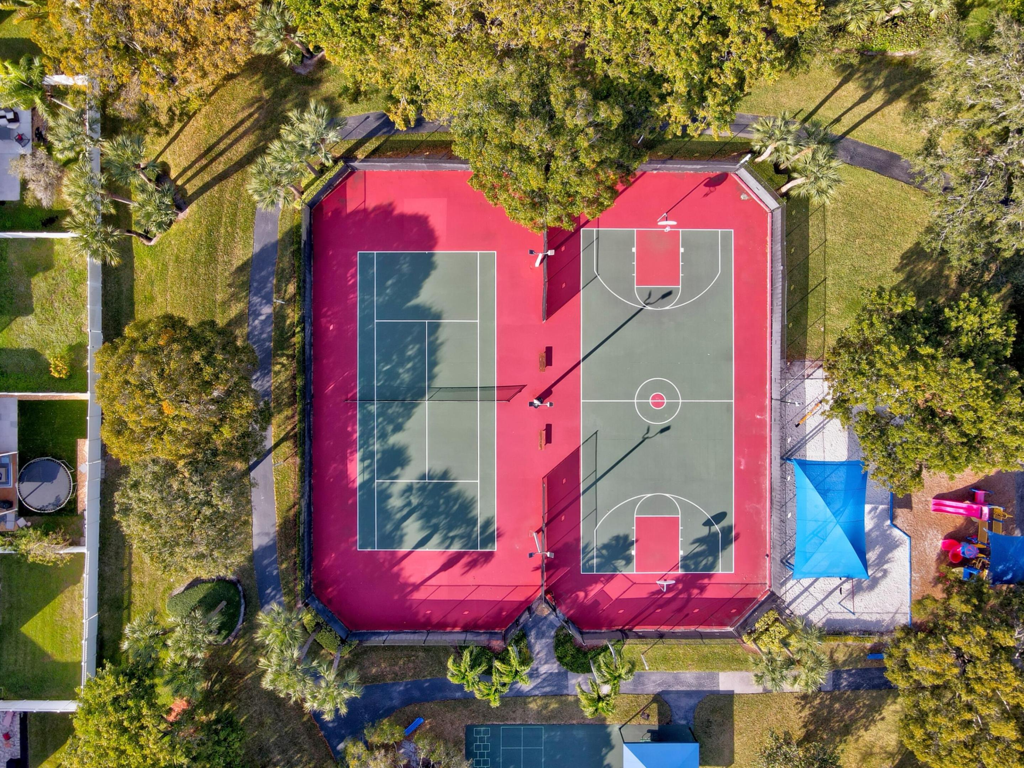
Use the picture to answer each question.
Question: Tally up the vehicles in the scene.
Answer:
0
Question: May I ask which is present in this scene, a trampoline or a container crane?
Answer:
trampoline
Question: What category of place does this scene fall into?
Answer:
sports ground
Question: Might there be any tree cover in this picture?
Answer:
Yes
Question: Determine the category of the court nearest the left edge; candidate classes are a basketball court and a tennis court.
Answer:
tennis court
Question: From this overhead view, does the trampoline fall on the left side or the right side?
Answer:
left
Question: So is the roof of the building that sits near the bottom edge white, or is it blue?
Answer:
blue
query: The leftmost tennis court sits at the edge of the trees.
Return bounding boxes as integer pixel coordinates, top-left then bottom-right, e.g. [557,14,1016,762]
[312,170,544,631]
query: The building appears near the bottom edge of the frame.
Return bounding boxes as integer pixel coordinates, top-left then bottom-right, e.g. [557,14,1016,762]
[617,727,700,768]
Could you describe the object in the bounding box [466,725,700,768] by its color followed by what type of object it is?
blue sports court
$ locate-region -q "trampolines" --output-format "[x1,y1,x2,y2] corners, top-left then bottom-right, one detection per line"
[18,453,83,514]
